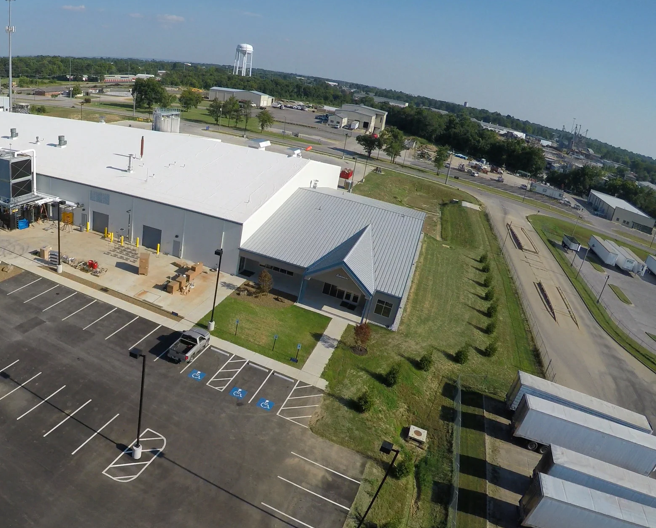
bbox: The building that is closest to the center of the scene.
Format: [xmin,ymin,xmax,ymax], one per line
[234,180,426,329]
